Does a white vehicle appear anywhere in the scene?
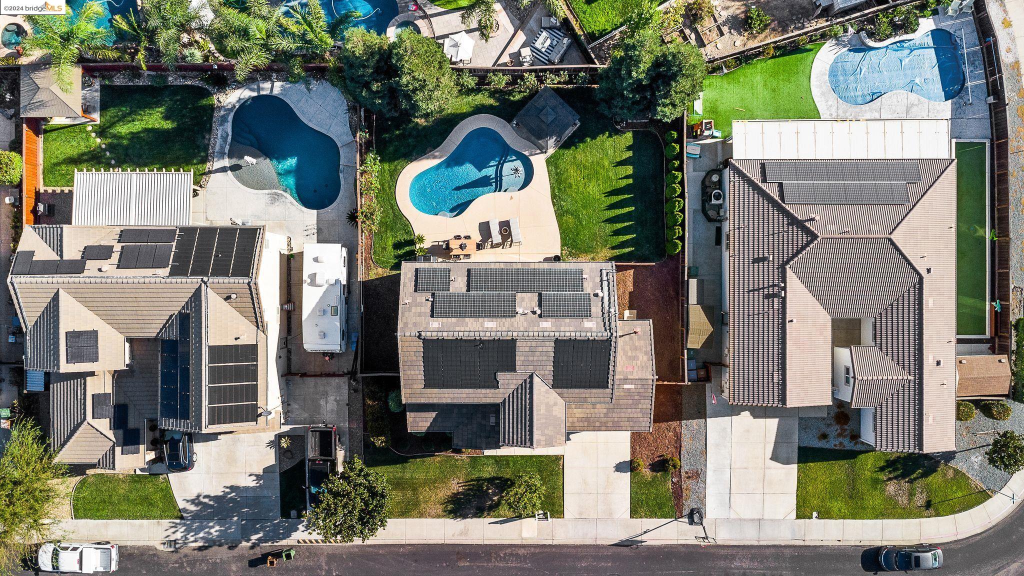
Yes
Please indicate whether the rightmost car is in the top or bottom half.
bottom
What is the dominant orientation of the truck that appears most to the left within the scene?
from left to right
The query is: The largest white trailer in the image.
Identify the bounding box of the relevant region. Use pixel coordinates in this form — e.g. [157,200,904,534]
[303,244,352,361]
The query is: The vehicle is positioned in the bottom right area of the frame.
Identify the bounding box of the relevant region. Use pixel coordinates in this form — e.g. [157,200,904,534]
[877,542,942,572]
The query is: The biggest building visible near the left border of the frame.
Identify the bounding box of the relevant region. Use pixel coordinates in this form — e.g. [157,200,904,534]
[6,224,297,470]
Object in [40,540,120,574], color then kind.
white truck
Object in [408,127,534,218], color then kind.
blue swimming pool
